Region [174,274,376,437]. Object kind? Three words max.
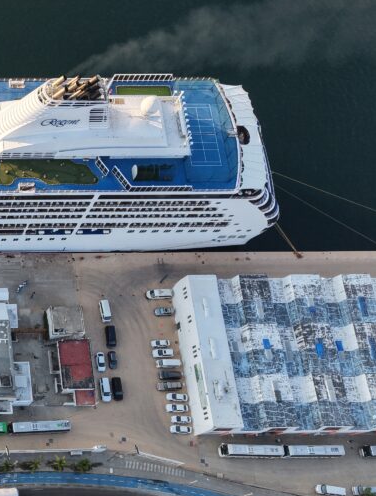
warehouse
